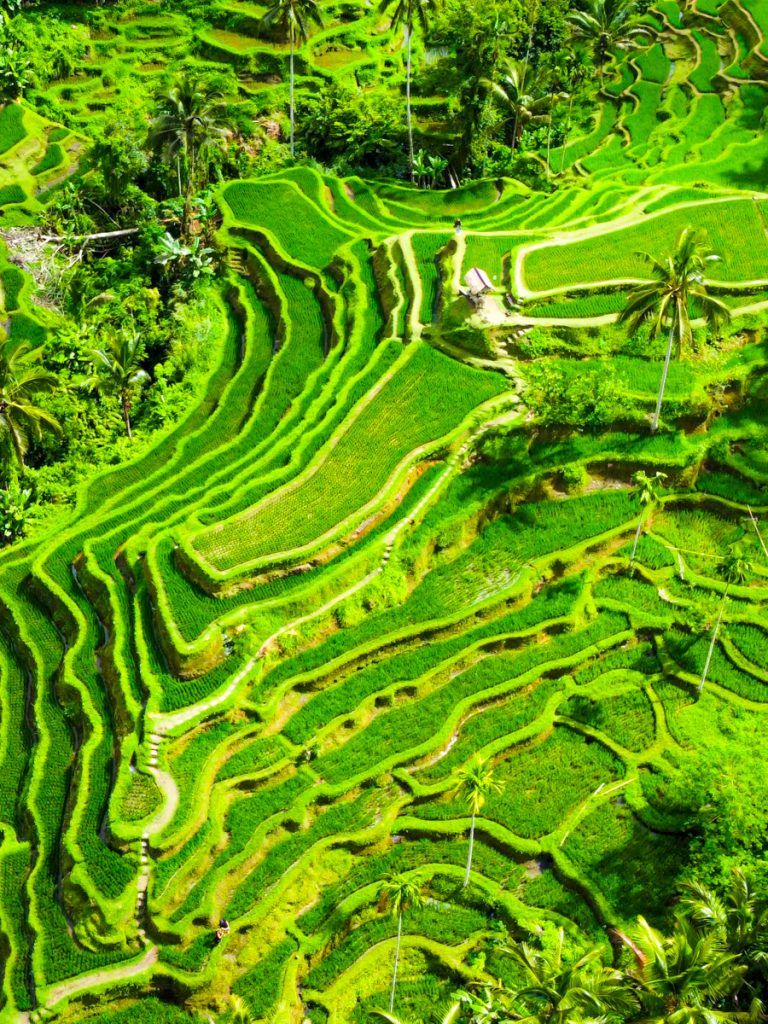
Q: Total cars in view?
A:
zero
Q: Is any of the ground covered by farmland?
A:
Yes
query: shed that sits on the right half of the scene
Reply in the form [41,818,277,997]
[462,268,498,308]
